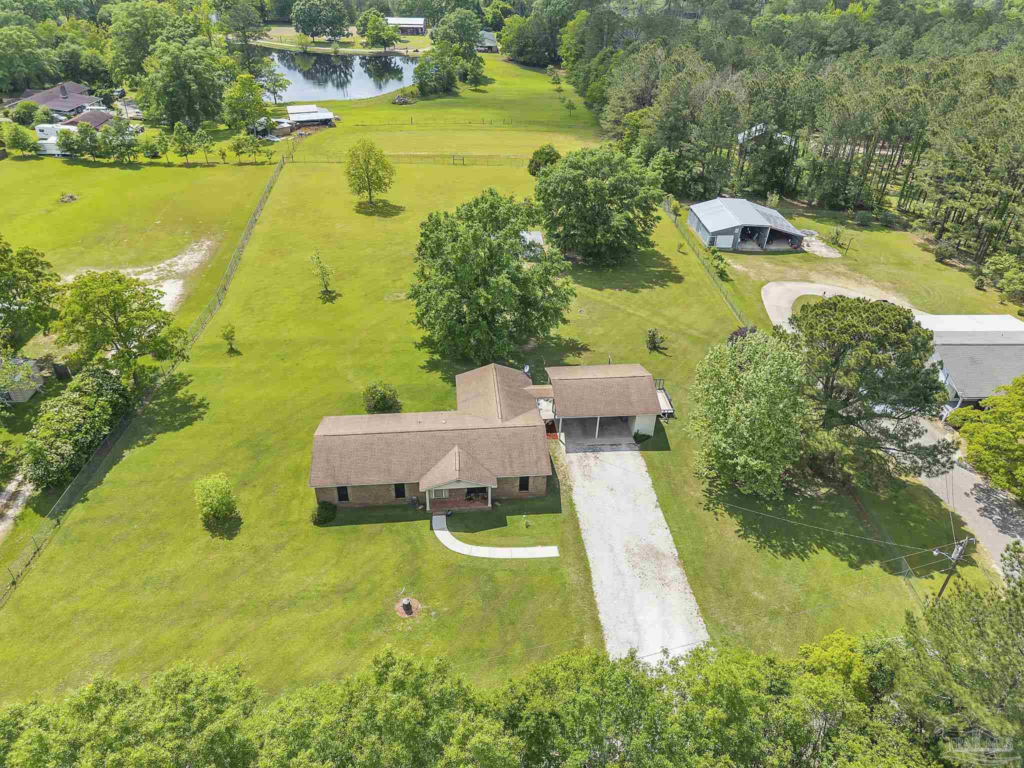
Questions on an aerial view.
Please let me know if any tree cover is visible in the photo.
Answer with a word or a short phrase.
Yes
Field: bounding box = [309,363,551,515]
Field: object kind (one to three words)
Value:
house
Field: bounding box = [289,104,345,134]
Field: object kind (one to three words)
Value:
shed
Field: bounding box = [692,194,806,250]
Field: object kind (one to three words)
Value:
barn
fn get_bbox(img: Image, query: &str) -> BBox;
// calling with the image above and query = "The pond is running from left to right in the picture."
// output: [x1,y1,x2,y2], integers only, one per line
[230,42,424,101]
